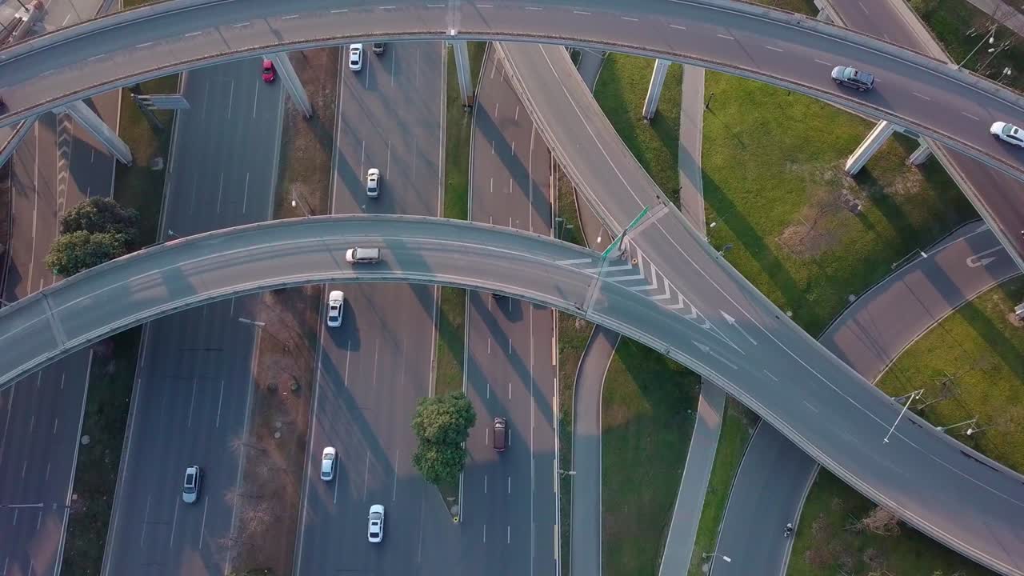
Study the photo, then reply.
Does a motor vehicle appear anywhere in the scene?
Yes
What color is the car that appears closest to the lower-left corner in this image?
blue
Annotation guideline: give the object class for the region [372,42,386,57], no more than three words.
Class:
car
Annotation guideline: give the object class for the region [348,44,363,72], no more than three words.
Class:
car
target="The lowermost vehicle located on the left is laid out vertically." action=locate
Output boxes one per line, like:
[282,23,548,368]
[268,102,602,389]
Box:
[367,503,385,543]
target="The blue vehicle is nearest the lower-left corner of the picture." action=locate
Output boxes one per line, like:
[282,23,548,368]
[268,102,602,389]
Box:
[181,465,203,504]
